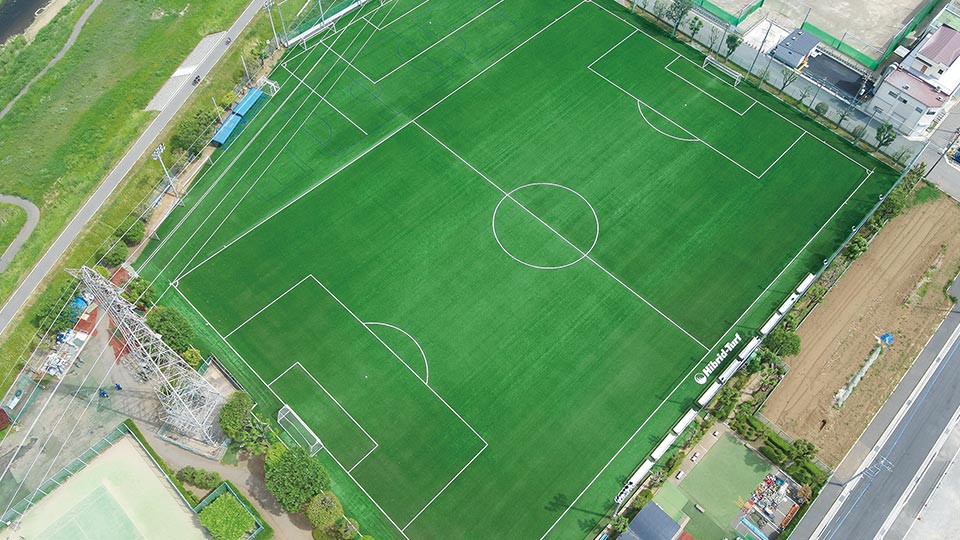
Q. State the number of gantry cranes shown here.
none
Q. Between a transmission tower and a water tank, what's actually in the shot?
transmission tower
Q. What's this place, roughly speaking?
sports ground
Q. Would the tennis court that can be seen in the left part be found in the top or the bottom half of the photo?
bottom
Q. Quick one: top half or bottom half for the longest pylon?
bottom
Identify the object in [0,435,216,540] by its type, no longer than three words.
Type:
tennis court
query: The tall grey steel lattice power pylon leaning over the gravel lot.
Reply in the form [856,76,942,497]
[54,255,233,455]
